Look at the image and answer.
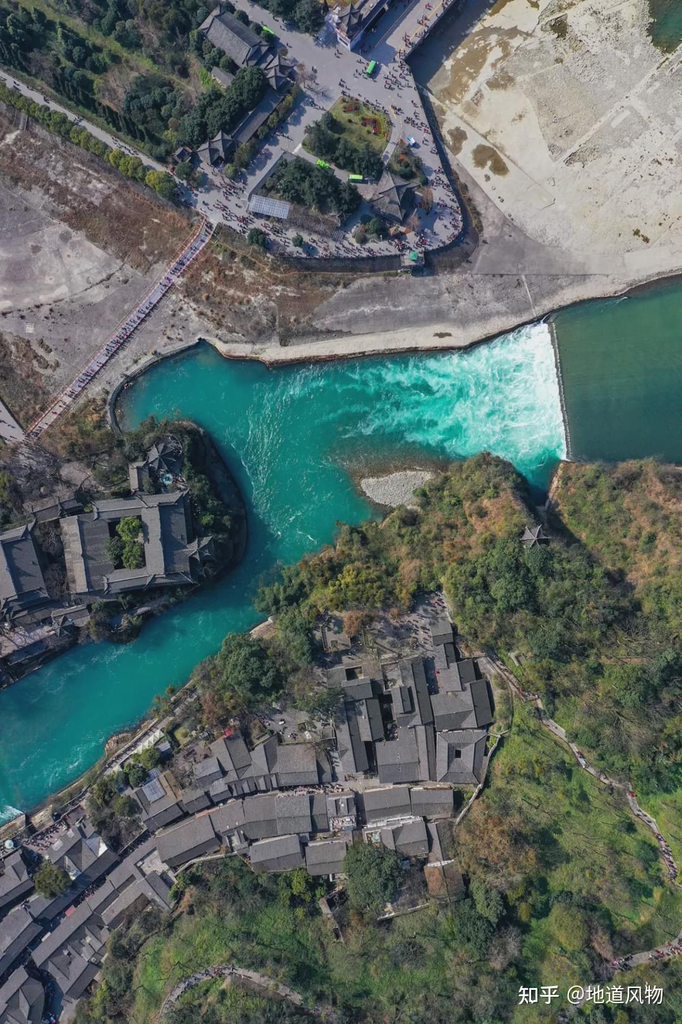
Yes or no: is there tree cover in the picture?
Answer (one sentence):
Yes, tree cover shows up in the scene.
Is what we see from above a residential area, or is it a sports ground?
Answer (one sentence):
What you see here is a residential area.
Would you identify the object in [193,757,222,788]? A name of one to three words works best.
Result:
house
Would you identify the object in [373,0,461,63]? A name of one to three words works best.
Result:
bridge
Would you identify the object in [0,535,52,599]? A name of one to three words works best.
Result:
building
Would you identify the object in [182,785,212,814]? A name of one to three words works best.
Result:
house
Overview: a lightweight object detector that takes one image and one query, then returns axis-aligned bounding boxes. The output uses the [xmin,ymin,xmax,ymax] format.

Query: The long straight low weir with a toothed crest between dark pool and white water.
[550,318,572,461]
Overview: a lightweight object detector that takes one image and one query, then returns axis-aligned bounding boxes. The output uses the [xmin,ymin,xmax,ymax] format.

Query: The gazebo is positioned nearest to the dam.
[522,522,551,549]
